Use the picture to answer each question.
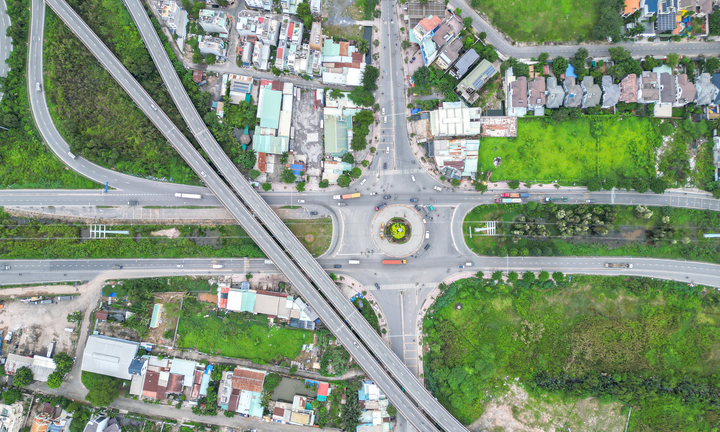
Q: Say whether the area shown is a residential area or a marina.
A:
residential area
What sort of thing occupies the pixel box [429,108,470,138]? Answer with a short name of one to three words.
building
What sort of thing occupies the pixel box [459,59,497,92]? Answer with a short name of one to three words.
house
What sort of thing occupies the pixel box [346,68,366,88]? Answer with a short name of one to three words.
shed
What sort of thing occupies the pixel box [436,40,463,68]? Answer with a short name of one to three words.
house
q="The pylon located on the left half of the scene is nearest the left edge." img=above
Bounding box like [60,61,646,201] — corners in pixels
[90,224,131,238]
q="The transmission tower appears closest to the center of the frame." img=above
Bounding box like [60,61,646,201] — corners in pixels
[473,221,496,235]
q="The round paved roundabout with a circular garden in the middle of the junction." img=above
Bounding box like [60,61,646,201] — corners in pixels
[372,205,425,257]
